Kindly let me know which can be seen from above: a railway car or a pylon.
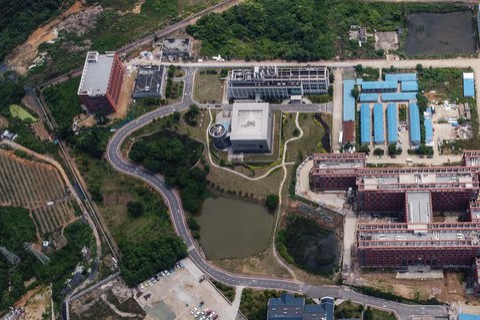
pylon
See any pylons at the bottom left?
Yes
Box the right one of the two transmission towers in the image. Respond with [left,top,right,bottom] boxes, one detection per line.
[20,240,52,271]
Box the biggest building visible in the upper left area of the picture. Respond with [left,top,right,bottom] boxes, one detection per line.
[76,50,124,113]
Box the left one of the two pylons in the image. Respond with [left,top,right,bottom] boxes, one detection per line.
[0,241,20,266]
